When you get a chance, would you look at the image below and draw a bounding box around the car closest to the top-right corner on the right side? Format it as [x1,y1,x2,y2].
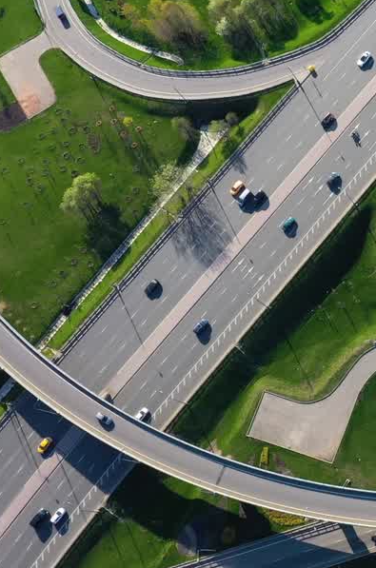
[355,50,372,68]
